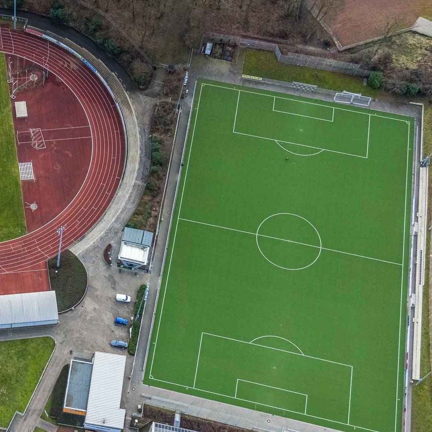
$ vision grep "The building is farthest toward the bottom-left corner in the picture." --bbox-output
[63,352,126,432]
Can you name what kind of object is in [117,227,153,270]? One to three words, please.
building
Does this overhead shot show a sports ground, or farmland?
sports ground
